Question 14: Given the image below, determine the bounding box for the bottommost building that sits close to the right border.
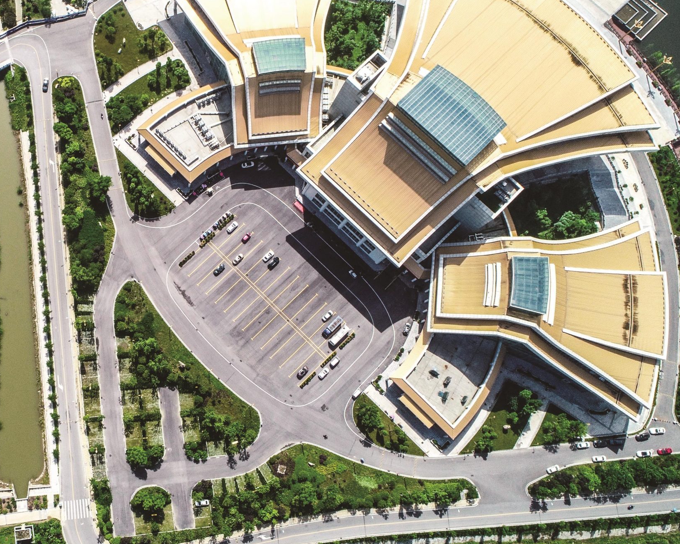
[420,217,670,421]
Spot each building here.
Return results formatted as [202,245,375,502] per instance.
[172,0,333,159]
[420,217,670,421]
[283,0,661,285]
